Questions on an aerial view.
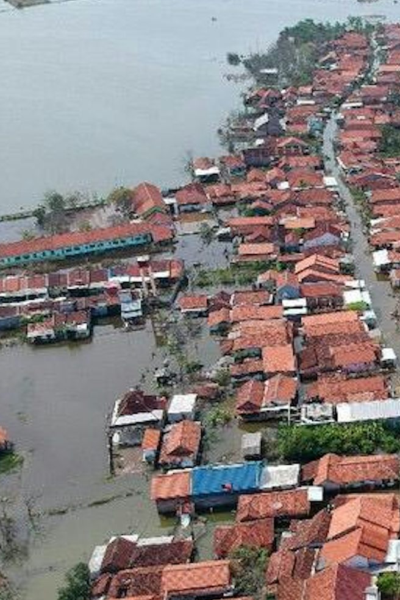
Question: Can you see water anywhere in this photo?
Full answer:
Yes, water shows up in the scene.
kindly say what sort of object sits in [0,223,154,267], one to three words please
building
